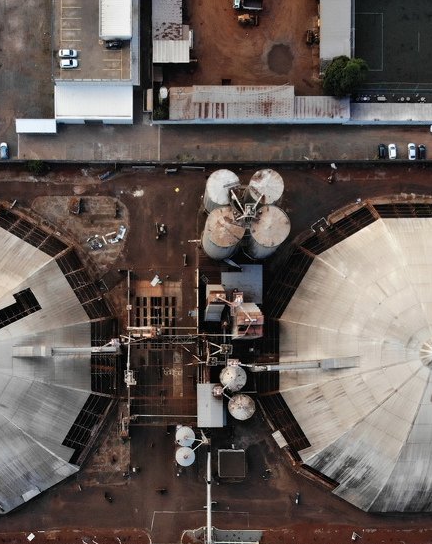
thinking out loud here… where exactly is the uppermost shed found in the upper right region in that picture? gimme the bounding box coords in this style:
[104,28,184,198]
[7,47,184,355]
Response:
[317,0,351,81]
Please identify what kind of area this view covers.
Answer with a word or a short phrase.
industrial area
